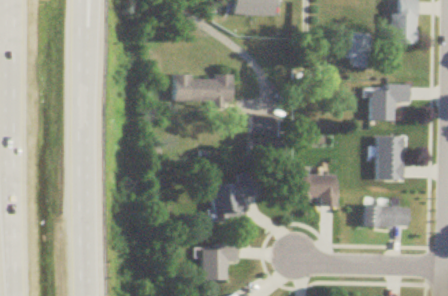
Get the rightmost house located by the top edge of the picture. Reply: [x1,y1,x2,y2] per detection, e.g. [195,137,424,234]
[390,0,421,45]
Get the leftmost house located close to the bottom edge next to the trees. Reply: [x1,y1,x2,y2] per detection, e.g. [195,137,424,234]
[203,247,240,282]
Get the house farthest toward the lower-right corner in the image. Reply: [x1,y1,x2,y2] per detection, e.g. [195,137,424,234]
[363,206,412,230]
